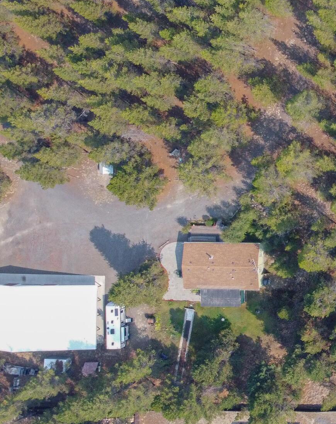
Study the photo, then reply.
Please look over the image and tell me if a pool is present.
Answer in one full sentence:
No, no pool is visible in the view.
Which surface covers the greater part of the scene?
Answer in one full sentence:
The scene is dominated by trees.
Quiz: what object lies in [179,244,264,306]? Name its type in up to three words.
building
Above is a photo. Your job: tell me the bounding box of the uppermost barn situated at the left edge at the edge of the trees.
[0,271,106,353]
